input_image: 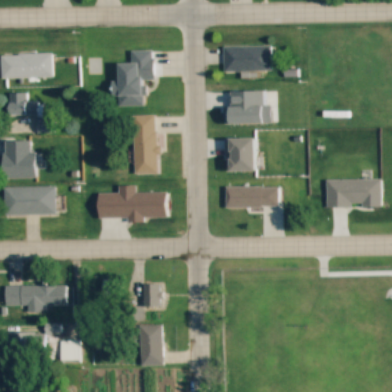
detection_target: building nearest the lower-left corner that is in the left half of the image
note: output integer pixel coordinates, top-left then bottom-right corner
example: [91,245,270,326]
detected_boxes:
[16,332,46,350]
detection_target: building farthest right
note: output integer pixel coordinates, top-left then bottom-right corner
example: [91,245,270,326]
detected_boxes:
[327,180,384,208]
